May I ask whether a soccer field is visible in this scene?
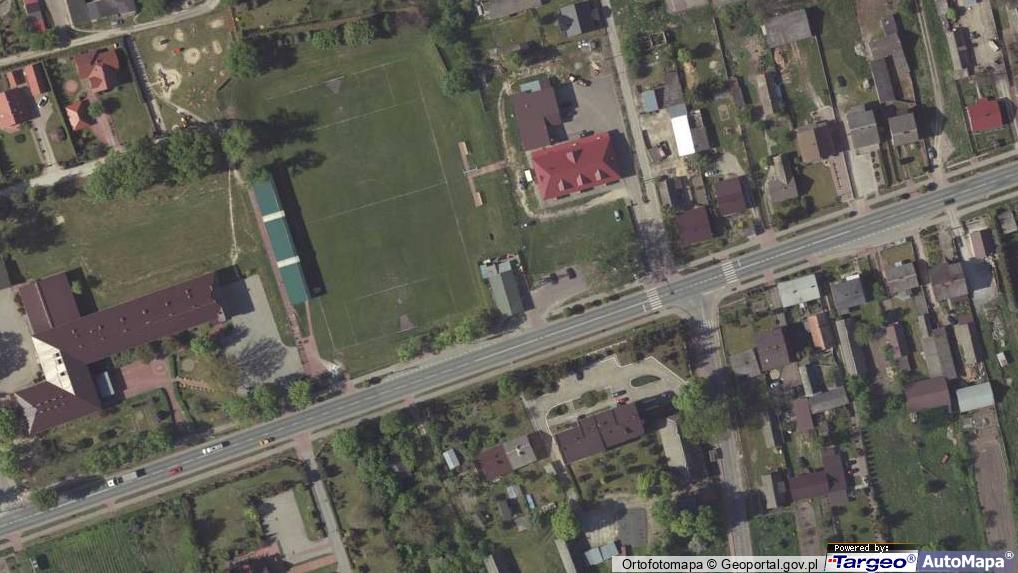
Yes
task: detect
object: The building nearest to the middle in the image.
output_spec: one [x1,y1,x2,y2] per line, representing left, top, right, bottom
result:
[477,261,523,314]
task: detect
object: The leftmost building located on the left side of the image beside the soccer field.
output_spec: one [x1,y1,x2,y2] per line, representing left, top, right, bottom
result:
[15,271,224,433]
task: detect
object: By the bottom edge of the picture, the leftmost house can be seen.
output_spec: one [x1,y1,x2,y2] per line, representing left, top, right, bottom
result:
[222,542,279,573]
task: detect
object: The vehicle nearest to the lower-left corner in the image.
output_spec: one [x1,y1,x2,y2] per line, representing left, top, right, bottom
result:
[107,472,136,485]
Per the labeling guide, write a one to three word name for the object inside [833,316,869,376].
shed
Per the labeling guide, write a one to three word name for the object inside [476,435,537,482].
house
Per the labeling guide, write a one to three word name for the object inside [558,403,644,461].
building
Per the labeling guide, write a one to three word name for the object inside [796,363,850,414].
barn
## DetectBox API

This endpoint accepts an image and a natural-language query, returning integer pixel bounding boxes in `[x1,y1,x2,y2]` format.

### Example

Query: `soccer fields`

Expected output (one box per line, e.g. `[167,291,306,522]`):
[265,58,481,350]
